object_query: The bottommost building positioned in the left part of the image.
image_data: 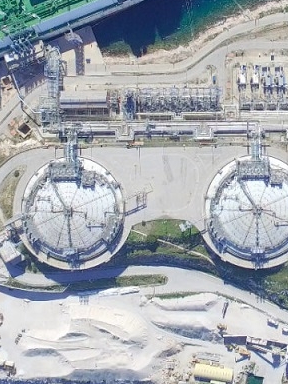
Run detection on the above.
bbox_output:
[0,239,26,264]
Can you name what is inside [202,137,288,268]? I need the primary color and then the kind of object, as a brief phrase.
white storage tank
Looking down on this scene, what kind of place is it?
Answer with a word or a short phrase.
industrial area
